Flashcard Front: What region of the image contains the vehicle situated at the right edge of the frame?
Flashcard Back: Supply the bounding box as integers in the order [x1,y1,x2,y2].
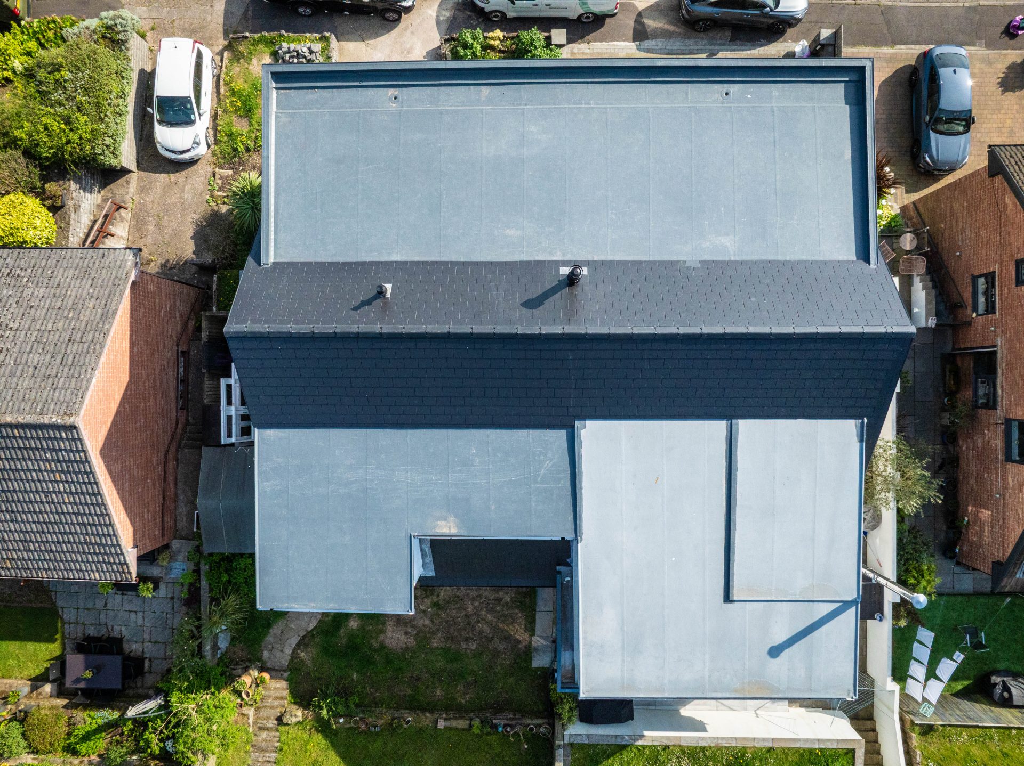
[906,39,983,180]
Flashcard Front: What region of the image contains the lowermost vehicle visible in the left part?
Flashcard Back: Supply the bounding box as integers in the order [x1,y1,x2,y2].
[146,36,217,167]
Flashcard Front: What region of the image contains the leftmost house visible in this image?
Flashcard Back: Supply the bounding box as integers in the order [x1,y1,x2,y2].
[0,244,205,585]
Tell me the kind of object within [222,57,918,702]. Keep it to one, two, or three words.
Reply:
house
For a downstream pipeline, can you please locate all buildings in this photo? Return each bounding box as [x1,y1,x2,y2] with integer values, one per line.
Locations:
[222,57,918,702]
[0,244,205,585]
[899,141,1024,600]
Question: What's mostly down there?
buildings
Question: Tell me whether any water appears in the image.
No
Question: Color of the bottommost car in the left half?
white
